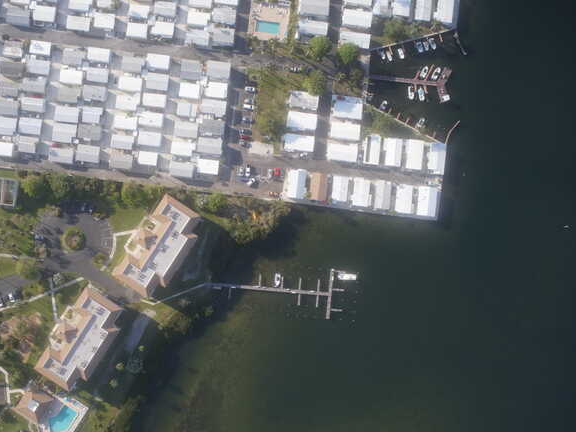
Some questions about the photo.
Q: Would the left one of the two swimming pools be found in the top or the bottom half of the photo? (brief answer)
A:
bottom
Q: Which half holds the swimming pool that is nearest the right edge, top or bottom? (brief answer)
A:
top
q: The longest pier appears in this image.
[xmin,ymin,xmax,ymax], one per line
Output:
[203,269,345,320]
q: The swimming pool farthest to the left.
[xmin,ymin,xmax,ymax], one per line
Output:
[36,396,87,432]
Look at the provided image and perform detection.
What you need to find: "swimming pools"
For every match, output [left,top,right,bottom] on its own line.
[249,0,290,39]
[36,396,87,432]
